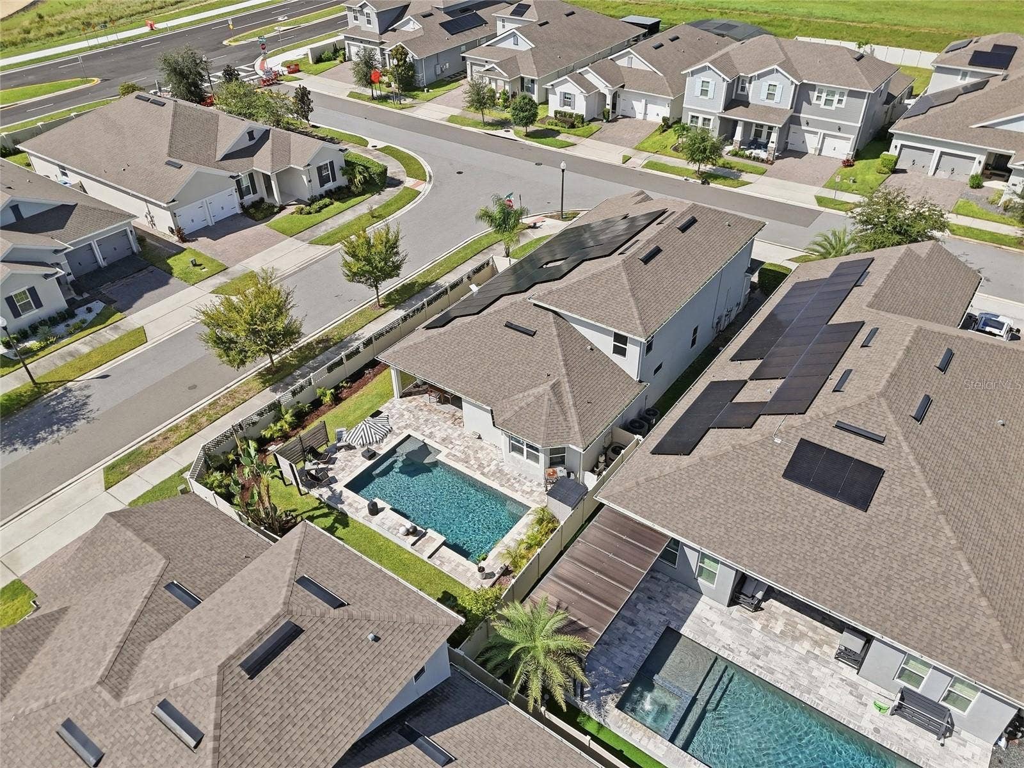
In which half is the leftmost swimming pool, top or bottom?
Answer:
bottom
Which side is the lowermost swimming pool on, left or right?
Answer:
right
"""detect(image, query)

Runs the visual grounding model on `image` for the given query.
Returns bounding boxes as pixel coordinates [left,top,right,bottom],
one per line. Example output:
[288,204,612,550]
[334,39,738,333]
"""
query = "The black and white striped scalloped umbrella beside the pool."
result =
[343,419,391,459]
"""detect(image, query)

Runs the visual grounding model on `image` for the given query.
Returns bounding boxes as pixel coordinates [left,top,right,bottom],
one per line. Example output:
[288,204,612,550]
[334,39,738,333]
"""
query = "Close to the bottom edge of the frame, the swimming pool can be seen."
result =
[606,619,938,768]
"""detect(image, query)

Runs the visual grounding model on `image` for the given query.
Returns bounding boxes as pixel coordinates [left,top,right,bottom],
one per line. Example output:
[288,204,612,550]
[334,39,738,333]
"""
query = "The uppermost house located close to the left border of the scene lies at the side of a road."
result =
[14,92,351,232]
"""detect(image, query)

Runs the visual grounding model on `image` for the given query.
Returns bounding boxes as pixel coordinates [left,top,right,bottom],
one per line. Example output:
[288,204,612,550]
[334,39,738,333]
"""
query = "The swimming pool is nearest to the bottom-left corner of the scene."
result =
[287,429,540,598]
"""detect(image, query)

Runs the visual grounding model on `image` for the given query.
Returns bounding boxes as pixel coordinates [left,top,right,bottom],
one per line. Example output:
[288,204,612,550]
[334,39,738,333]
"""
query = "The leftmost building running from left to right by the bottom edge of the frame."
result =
[0,484,604,768]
